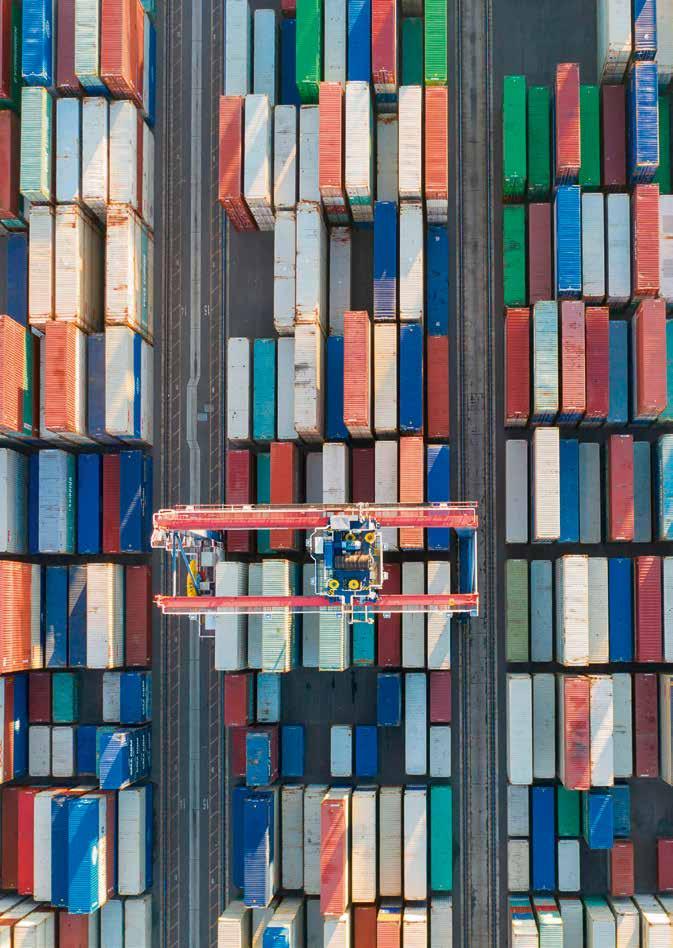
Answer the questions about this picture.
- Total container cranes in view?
one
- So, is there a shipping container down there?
Yes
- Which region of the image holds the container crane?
center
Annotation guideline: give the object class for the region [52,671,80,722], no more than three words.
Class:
shipping container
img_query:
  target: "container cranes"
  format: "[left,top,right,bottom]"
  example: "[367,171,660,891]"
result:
[150,499,480,639]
